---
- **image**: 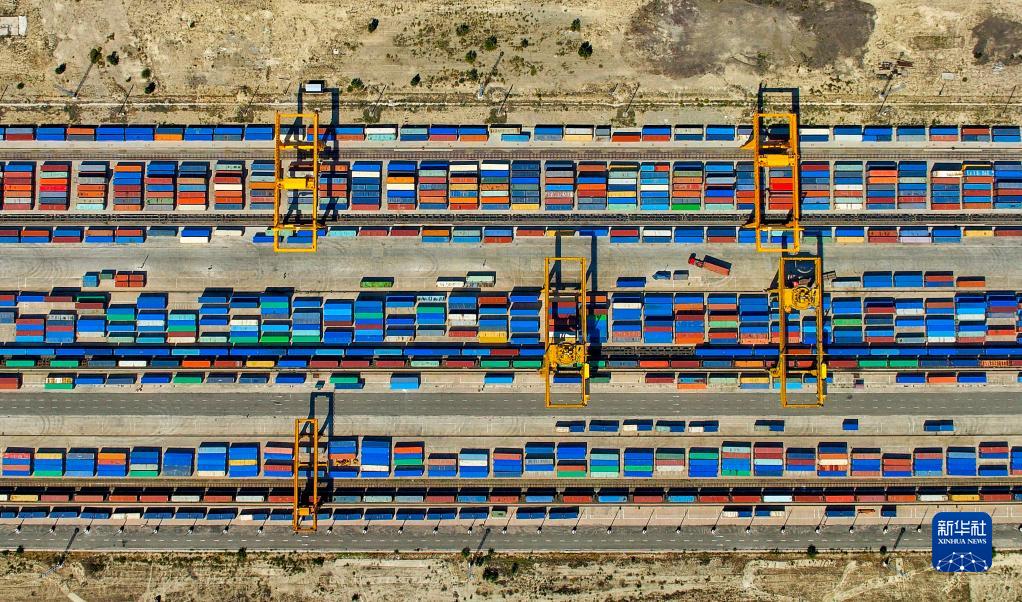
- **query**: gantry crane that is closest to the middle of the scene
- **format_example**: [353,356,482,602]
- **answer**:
[537,259,592,405]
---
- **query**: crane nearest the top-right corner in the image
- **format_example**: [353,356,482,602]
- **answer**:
[739,115,798,251]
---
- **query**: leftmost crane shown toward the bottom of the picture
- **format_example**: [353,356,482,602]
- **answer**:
[292,419,326,532]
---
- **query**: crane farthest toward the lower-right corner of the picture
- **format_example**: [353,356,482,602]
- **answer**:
[765,259,827,405]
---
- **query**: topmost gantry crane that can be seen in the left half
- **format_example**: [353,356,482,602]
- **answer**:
[274,115,331,251]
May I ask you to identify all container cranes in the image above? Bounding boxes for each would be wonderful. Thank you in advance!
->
[765,259,827,405]
[274,115,331,251]
[292,419,326,532]
[537,259,592,405]
[739,115,798,251]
